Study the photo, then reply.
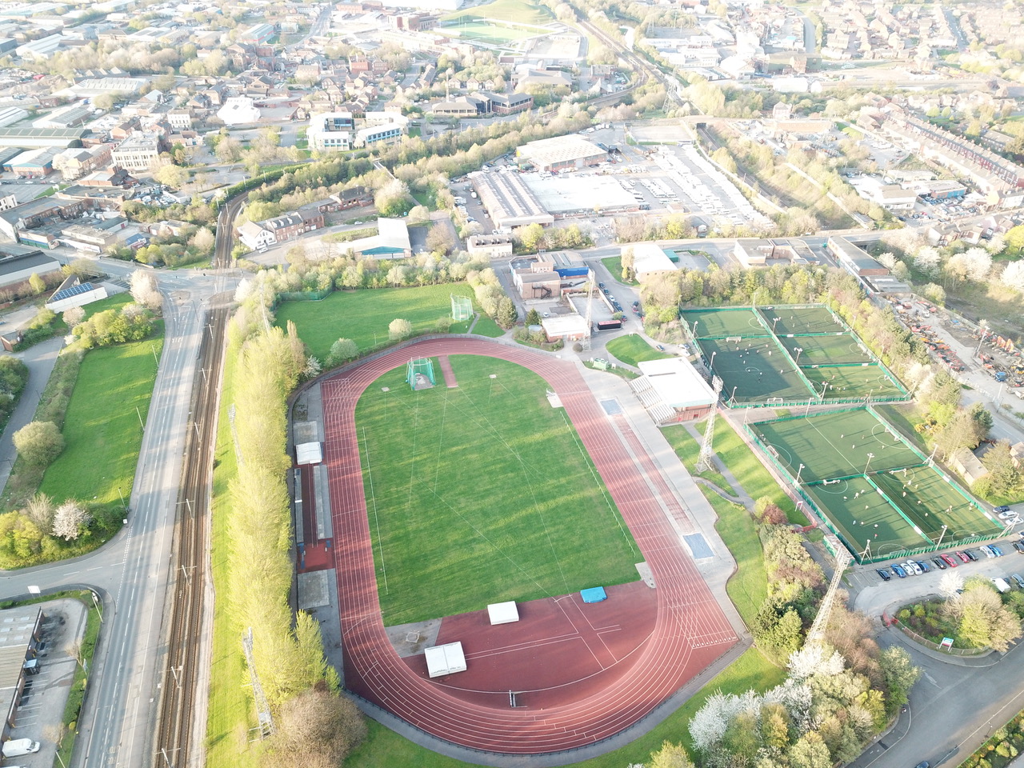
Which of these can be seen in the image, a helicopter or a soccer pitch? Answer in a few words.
soccer pitch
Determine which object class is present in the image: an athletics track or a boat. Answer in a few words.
athletics track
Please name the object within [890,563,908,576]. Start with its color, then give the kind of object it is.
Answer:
blue vehicle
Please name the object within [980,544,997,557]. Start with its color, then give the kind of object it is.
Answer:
white vehicle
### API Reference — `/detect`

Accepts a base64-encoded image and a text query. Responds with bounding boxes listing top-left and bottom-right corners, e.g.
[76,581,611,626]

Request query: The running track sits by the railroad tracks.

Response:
[319,336,743,753]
